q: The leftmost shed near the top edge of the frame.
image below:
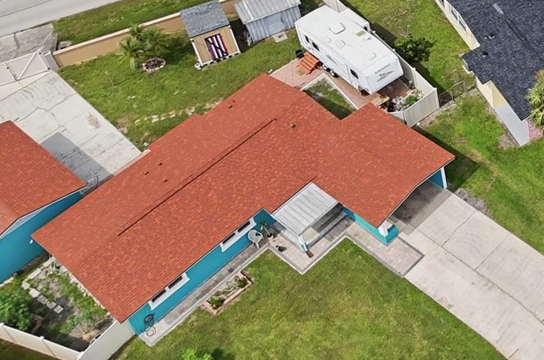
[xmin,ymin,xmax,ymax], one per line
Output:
[182,0,237,59]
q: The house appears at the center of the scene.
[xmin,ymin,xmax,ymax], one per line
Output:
[30,73,456,336]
